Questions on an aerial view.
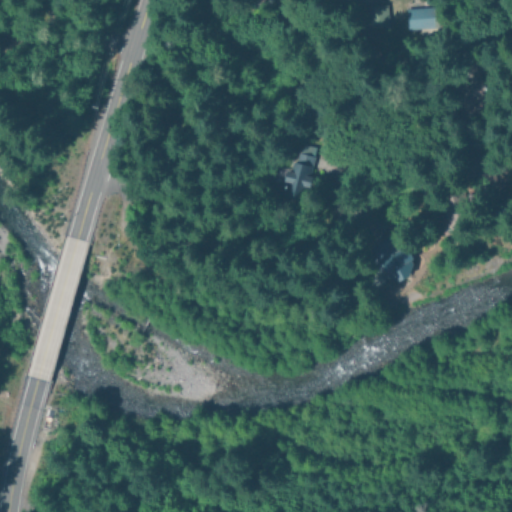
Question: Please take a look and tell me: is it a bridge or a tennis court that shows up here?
bridge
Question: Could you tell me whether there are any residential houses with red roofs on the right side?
No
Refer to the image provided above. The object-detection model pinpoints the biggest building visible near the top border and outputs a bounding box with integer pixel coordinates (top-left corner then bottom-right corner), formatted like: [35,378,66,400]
[408,6,437,34]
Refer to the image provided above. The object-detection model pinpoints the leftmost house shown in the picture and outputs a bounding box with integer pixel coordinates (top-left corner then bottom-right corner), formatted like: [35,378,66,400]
[284,143,319,196]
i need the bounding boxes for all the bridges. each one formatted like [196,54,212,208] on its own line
[27,232,92,384]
